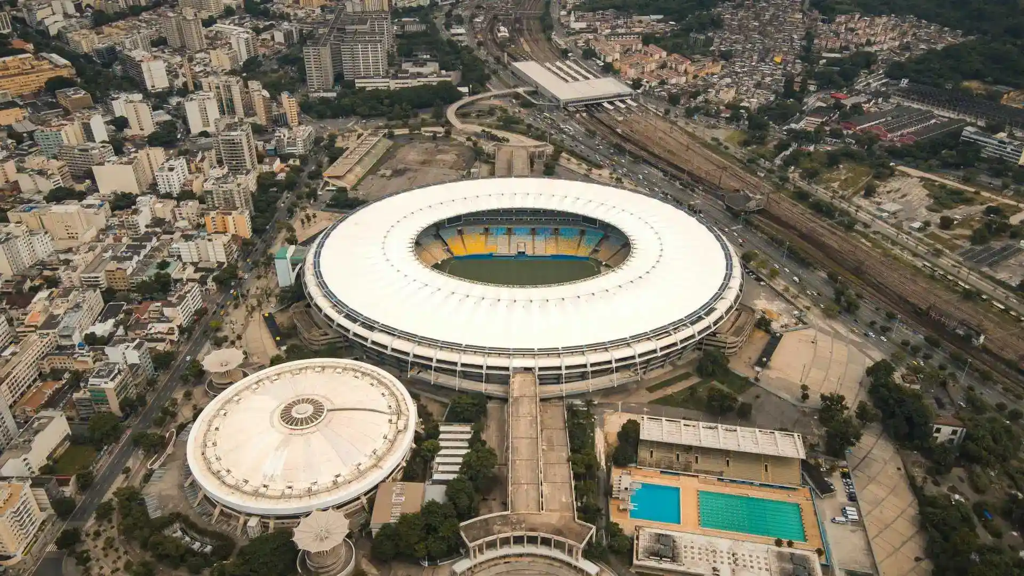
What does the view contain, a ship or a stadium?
stadium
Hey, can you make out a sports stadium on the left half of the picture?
Yes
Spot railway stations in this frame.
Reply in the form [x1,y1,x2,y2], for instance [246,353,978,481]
[512,61,634,110]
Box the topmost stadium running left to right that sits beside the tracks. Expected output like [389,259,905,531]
[297,175,749,398]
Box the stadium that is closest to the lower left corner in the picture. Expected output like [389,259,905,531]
[186,359,420,534]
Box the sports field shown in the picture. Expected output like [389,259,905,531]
[443,259,601,287]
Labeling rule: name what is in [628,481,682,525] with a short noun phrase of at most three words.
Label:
swimming pool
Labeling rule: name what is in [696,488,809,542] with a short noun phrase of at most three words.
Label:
swimming pool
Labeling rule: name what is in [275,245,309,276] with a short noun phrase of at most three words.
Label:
building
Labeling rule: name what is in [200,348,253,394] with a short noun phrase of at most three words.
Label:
building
